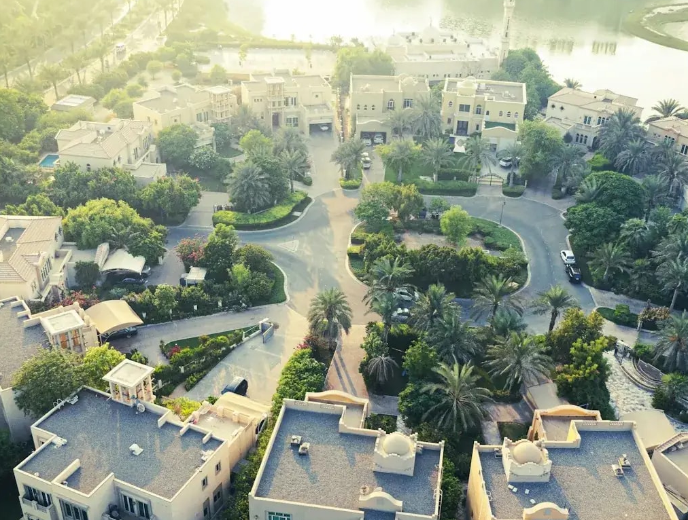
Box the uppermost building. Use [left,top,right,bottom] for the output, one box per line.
[379,16,496,86]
